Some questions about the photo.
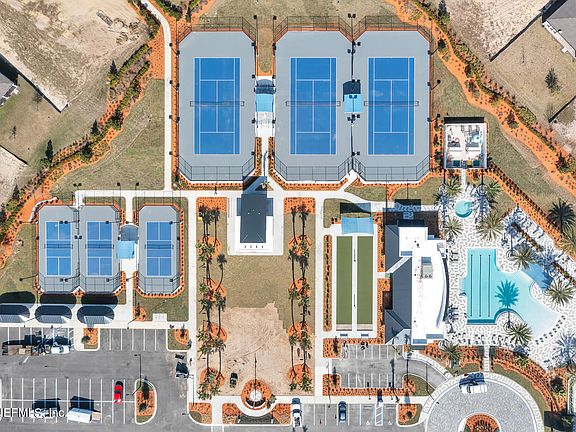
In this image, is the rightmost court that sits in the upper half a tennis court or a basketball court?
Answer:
tennis court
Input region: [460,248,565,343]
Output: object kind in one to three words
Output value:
swimming pool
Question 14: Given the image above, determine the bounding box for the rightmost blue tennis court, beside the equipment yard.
[353,31,430,180]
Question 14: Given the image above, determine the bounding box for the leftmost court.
[39,206,78,291]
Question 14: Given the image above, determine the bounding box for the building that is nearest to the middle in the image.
[236,195,273,253]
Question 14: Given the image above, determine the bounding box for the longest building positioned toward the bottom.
[384,220,453,354]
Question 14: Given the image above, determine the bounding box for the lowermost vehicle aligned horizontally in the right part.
[462,381,488,394]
